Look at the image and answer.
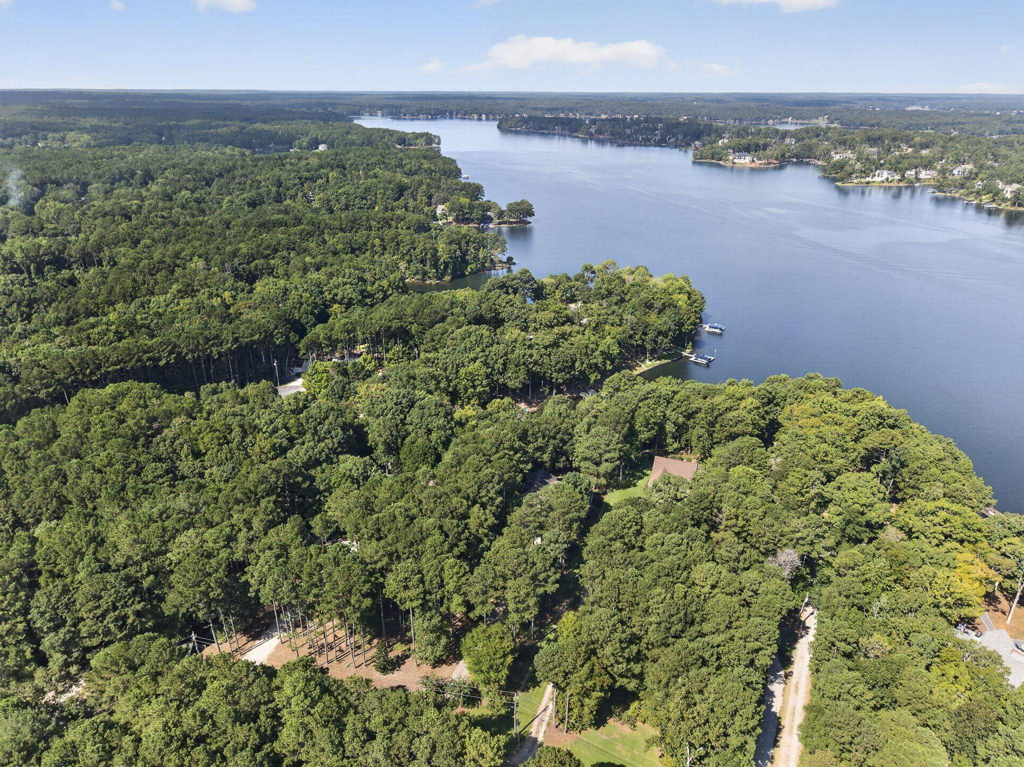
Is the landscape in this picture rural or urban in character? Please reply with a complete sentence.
It looks rural.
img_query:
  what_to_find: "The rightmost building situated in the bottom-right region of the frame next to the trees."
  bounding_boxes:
[979,618,1024,679]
